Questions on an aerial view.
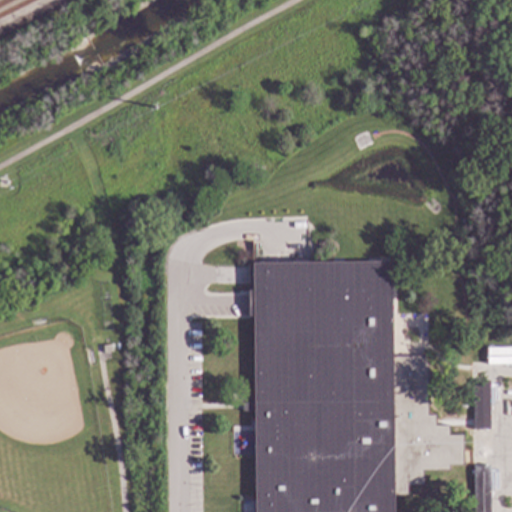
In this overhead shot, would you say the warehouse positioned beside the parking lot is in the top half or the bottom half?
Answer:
bottom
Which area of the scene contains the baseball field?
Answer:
bottom left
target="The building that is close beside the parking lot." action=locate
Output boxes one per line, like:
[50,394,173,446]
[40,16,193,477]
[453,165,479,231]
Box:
[244,262,398,512]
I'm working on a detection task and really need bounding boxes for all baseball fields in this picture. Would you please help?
[0,332,84,444]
